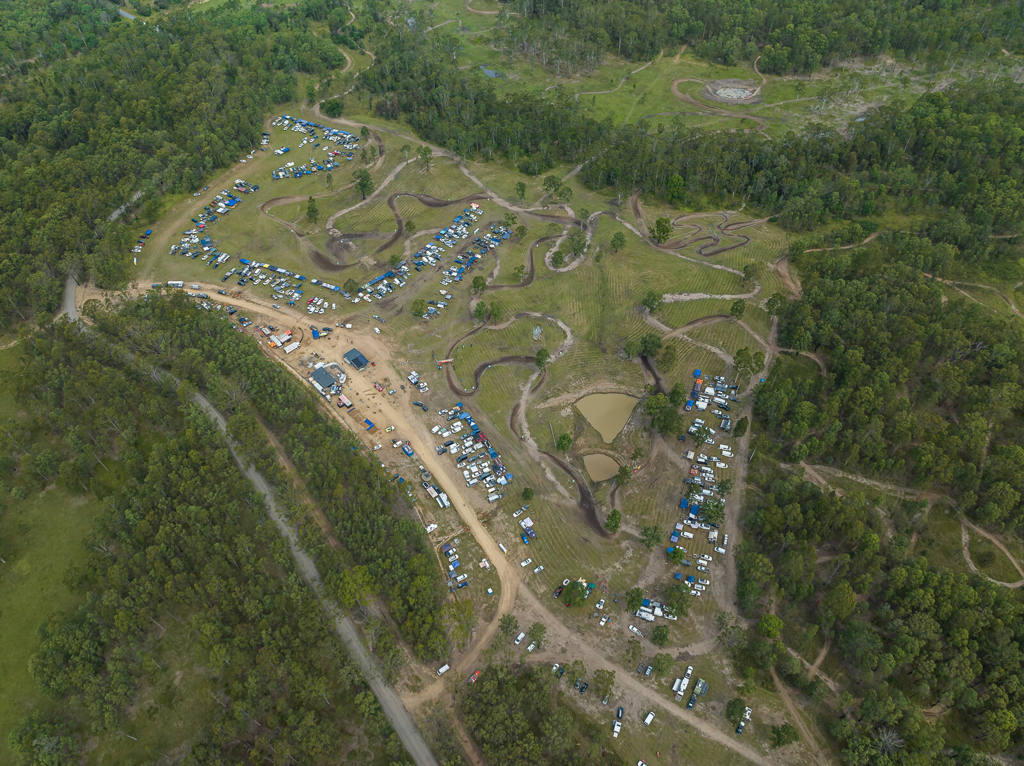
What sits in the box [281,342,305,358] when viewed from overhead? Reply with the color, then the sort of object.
white vehicle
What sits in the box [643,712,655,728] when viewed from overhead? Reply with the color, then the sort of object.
white vehicle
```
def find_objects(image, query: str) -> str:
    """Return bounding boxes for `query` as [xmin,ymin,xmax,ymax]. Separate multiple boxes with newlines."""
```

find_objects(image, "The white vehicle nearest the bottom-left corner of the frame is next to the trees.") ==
[436,663,451,677]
